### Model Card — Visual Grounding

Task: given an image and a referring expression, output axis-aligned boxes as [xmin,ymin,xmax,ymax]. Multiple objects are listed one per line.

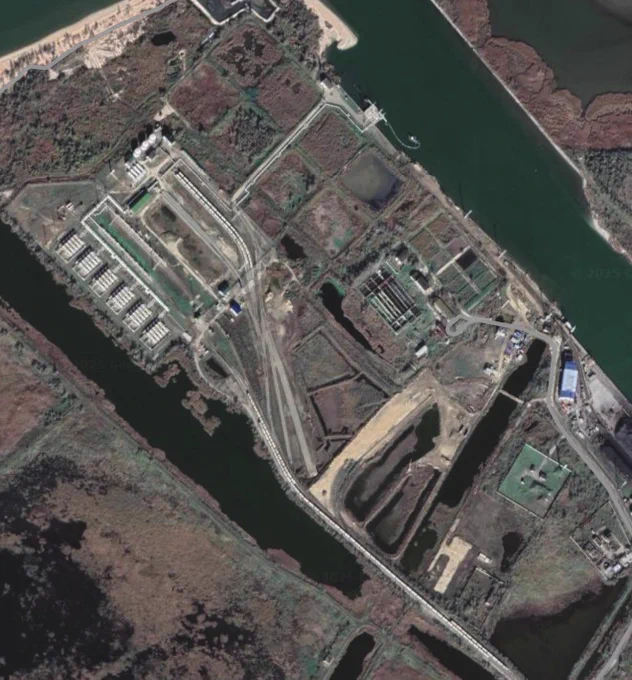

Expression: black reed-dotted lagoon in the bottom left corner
[0,454,129,680]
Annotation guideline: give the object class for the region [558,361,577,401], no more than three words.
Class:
building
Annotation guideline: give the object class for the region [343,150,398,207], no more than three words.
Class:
pond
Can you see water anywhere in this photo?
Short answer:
Yes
